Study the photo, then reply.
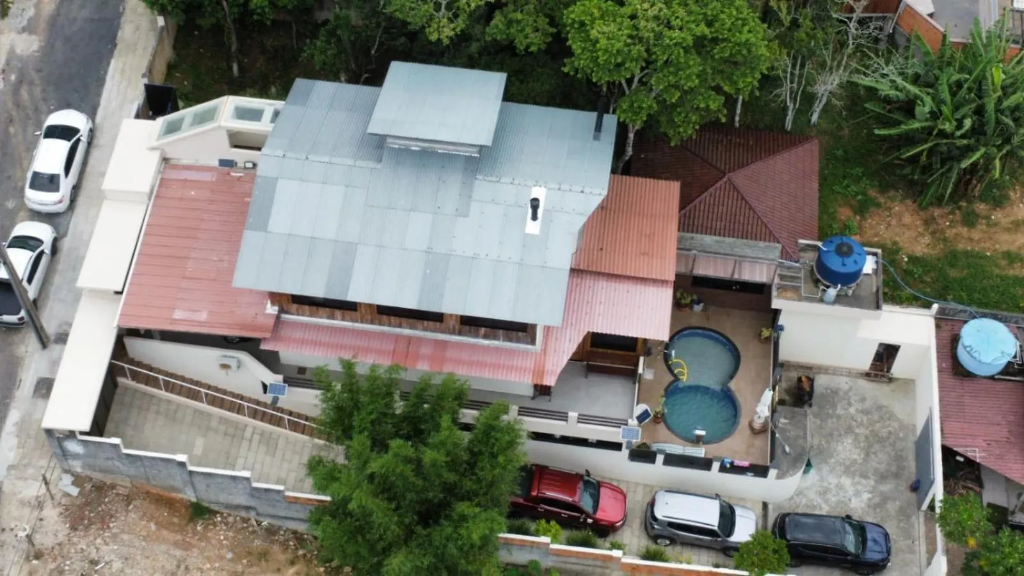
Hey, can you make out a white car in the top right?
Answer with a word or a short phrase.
No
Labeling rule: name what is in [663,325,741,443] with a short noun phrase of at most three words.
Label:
swimming pool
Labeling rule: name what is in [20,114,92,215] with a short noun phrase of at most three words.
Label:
car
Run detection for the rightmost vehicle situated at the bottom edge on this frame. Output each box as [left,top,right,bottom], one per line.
[770,503,895,576]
